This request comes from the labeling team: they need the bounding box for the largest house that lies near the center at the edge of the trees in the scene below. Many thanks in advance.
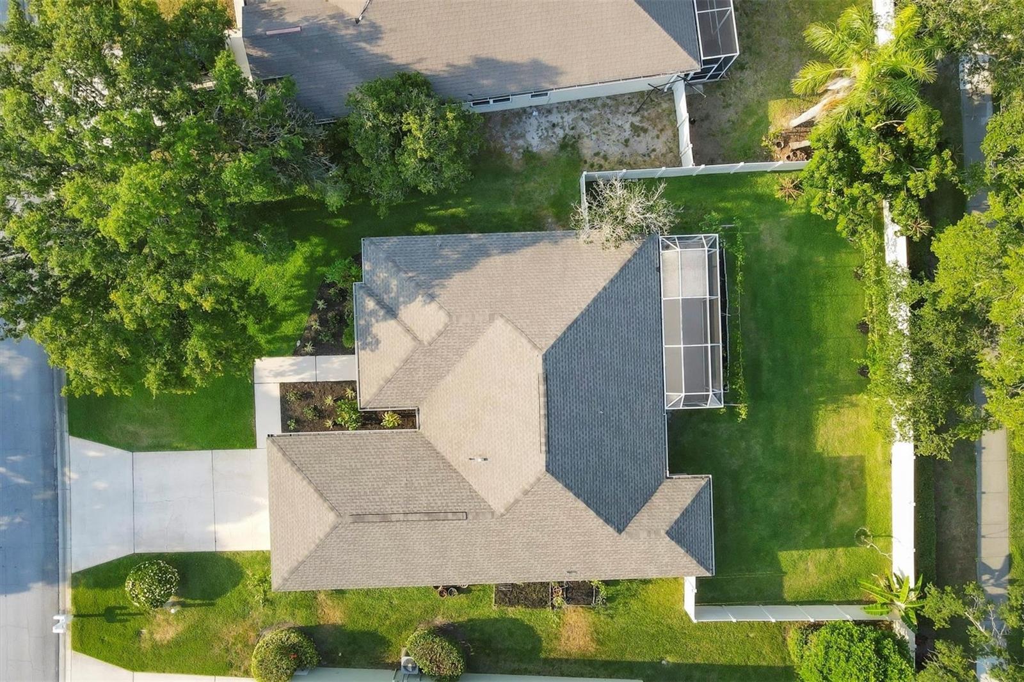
[266,229,717,591]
